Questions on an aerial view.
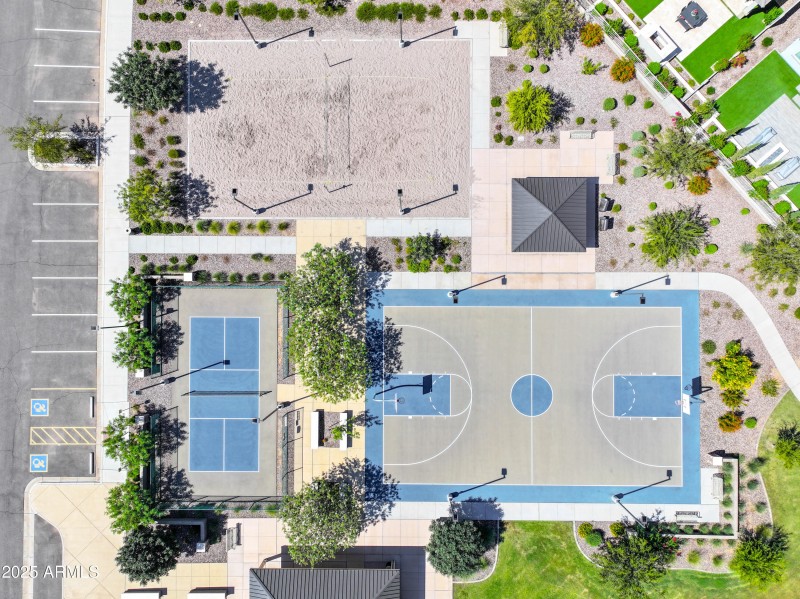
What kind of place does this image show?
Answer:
sports ground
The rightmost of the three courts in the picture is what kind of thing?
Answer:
basketball court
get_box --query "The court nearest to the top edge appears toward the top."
[188,39,472,219]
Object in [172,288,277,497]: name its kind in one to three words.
sports court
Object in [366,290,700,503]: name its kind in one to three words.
basketball court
